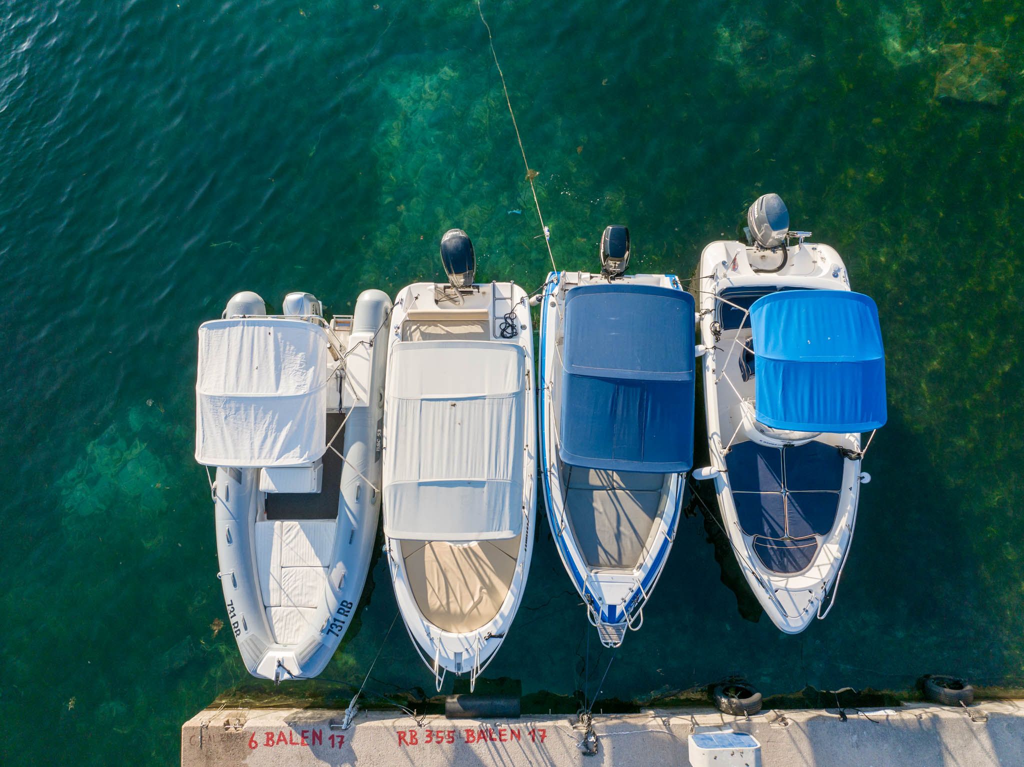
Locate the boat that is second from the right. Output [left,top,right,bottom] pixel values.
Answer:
[536,222,697,648]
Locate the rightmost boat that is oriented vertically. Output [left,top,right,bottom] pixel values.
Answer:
[697,193,887,635]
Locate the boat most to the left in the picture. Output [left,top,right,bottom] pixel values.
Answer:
[195,283,393,682]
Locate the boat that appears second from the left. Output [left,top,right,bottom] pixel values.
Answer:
[382,227,539,693]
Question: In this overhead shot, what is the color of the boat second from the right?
blue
